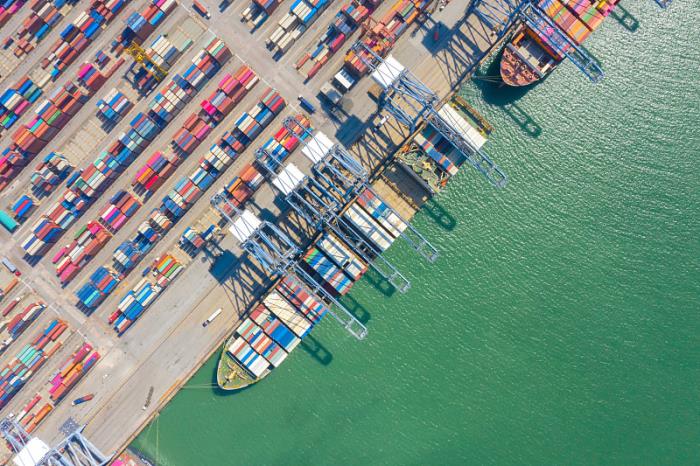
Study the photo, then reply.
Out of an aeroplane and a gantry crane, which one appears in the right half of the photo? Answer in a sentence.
It is a gantry crane that can be seen in the right half of the photo.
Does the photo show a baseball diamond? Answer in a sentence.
No, I can't see a single baseball diamond in this photo.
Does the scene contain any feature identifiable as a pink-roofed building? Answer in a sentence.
No, I can't see a single pink-roofed building in this photo.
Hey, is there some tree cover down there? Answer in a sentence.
No, the scene doesn't show any tree cover.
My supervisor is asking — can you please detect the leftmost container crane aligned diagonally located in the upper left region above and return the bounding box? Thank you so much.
[124,40,174,86]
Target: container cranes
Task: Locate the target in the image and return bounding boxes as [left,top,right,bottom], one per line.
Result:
[210,192,368,342]
[252,147,410,298]
[354,39,513,190]
[282,115,440,266]
[124,40,174,86]
[358,20,399,64]
[0,413,117,466]
[463,0,608,89]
